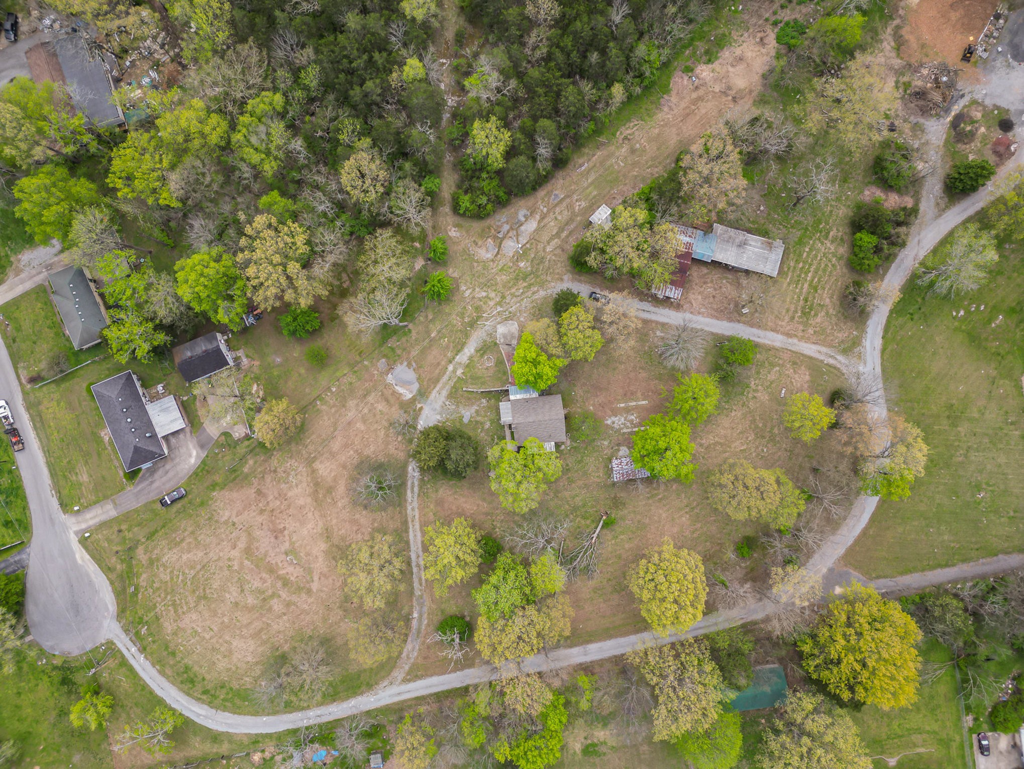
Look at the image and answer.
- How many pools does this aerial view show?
zero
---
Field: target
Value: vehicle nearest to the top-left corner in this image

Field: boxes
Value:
[3,13,19,44]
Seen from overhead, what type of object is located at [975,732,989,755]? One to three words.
car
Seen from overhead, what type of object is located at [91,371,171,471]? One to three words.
house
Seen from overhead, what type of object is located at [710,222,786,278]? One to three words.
barn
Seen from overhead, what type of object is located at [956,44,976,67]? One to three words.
work vehicle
